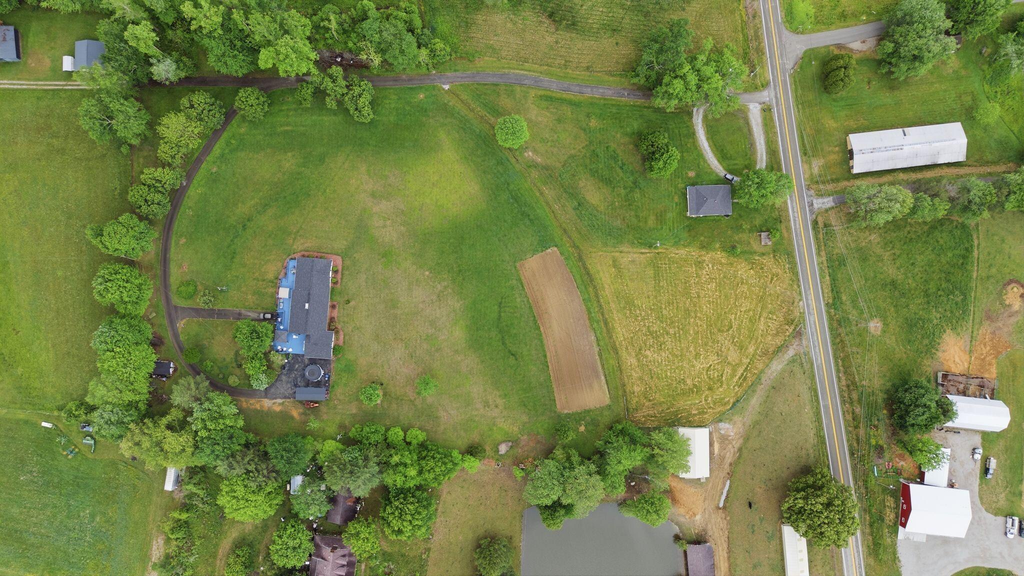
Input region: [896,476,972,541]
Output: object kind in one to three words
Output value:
barn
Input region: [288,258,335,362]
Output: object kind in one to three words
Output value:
house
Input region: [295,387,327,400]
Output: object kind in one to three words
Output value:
shed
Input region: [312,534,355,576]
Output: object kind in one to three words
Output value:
house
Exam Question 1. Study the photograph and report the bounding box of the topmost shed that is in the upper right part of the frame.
[845,122,967,174]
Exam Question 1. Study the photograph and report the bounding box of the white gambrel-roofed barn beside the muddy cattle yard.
[942,395,1011,432]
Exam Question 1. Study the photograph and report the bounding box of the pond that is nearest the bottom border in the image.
[520,501,687,576]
